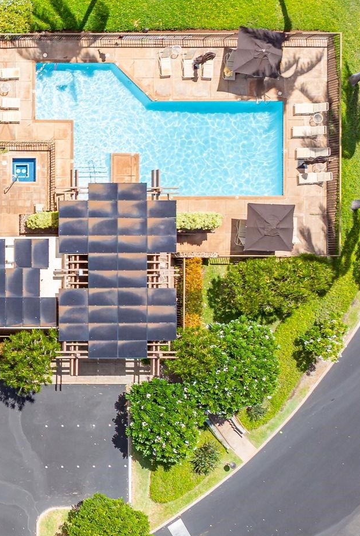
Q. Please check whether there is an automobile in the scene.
No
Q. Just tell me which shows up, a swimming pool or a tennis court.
swimming pool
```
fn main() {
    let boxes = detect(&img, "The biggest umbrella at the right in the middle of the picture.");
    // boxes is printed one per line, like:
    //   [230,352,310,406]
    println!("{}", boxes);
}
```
[242,204,292,251]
